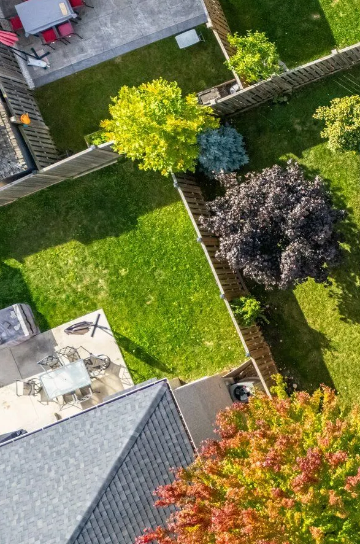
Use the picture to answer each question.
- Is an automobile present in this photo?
No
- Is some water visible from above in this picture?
No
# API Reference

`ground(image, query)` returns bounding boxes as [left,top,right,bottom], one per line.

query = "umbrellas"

[60,313,102,338]
[0,33,47,62]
